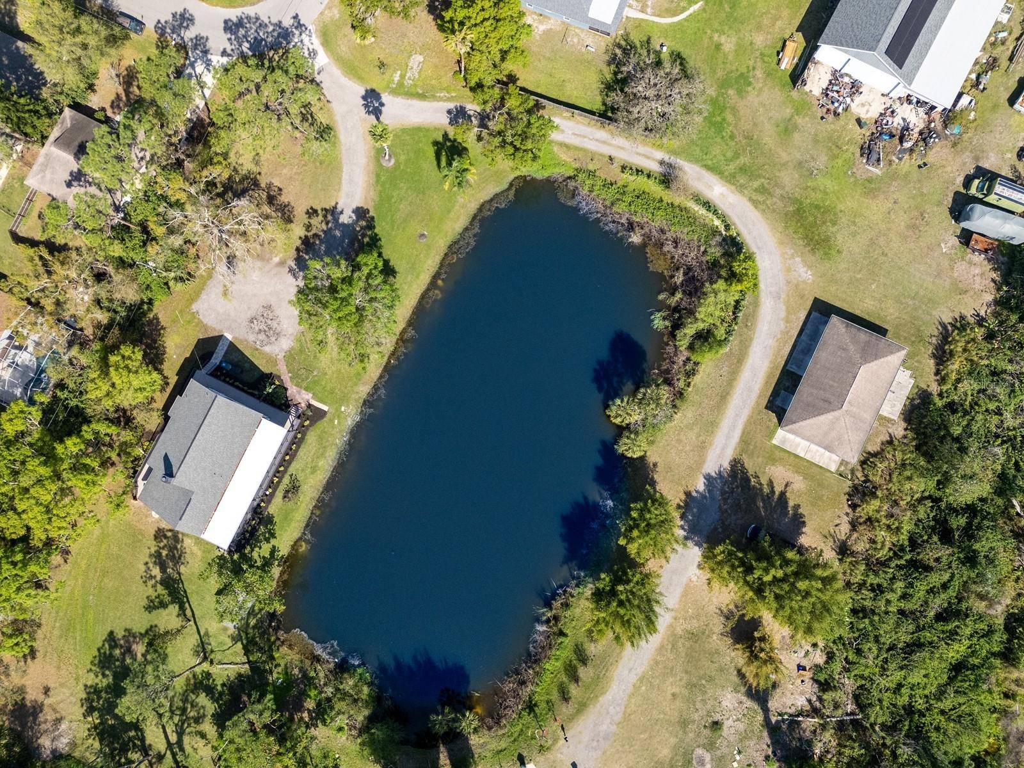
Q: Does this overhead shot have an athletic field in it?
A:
No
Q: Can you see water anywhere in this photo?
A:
Yes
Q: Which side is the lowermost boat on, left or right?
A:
right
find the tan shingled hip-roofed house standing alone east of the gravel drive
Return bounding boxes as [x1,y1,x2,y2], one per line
[772,311,914,472]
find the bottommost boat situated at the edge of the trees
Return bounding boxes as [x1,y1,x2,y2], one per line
[949,206,1024,251]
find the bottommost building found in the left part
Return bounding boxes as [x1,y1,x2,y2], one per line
[134,369,313,552]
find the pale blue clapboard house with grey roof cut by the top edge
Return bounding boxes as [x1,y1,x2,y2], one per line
[520,0,631,47]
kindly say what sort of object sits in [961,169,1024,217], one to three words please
truck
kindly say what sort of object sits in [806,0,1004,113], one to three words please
barn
